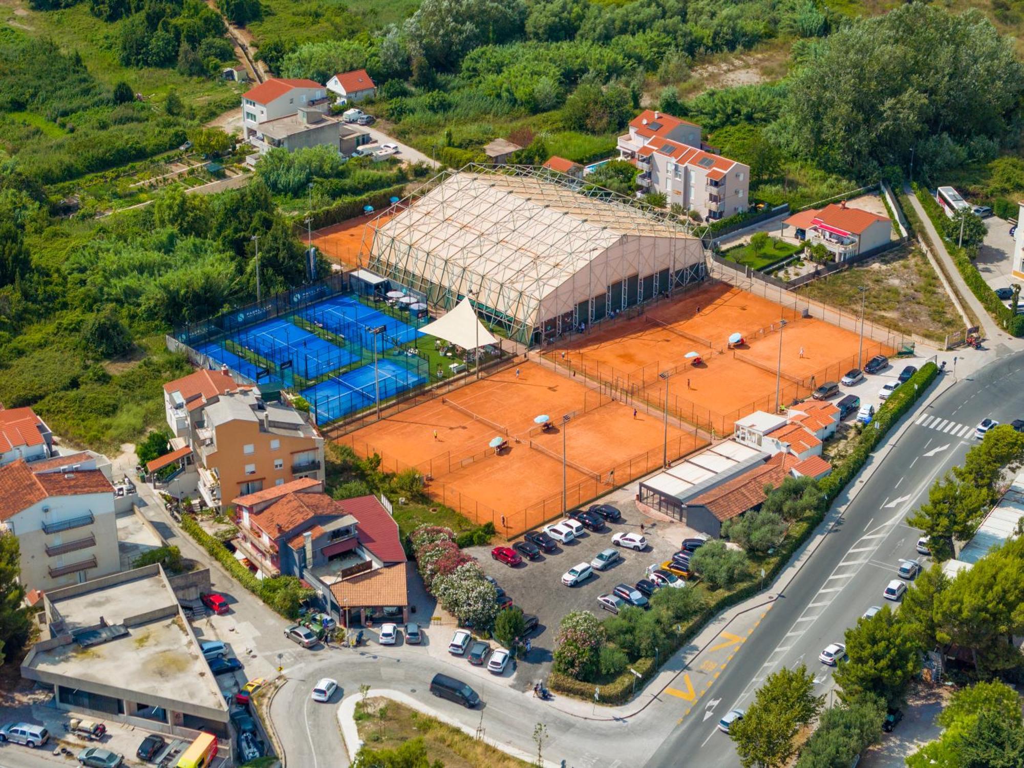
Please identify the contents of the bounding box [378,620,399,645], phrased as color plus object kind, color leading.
white car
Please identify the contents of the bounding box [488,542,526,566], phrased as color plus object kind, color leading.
red car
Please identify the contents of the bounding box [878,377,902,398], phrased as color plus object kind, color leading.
white car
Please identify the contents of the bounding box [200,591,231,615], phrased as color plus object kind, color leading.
red car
